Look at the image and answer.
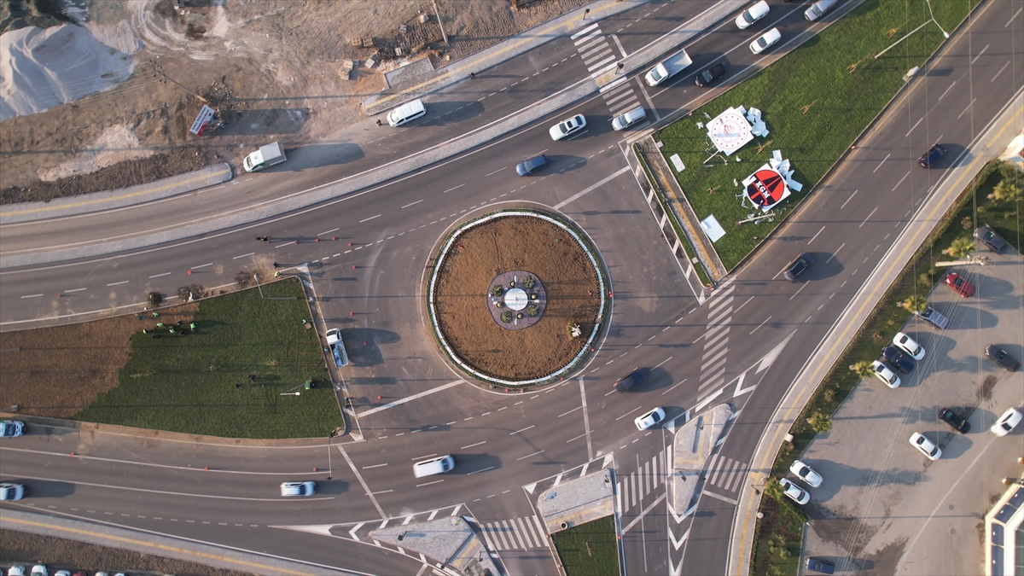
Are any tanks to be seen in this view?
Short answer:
No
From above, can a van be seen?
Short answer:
Yes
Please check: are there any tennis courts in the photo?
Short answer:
No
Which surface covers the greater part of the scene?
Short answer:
paved ground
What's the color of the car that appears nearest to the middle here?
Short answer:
blue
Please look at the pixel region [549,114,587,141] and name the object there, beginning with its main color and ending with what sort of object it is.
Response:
white car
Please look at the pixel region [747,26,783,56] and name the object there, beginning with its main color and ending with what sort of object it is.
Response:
white van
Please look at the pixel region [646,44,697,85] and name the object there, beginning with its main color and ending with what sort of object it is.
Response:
white truck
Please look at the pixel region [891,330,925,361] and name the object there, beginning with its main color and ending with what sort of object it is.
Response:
white car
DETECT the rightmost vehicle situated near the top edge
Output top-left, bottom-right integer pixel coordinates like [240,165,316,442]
[802,0,841,24]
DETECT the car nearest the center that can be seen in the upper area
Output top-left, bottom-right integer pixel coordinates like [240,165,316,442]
[515,153,549,176]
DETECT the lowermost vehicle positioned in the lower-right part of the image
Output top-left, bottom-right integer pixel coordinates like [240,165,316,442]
[804,555,837,575]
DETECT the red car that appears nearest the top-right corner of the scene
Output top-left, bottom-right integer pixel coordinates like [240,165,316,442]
[941,272,978,299]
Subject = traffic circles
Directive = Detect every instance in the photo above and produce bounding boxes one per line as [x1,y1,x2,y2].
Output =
[426,207,607,389]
